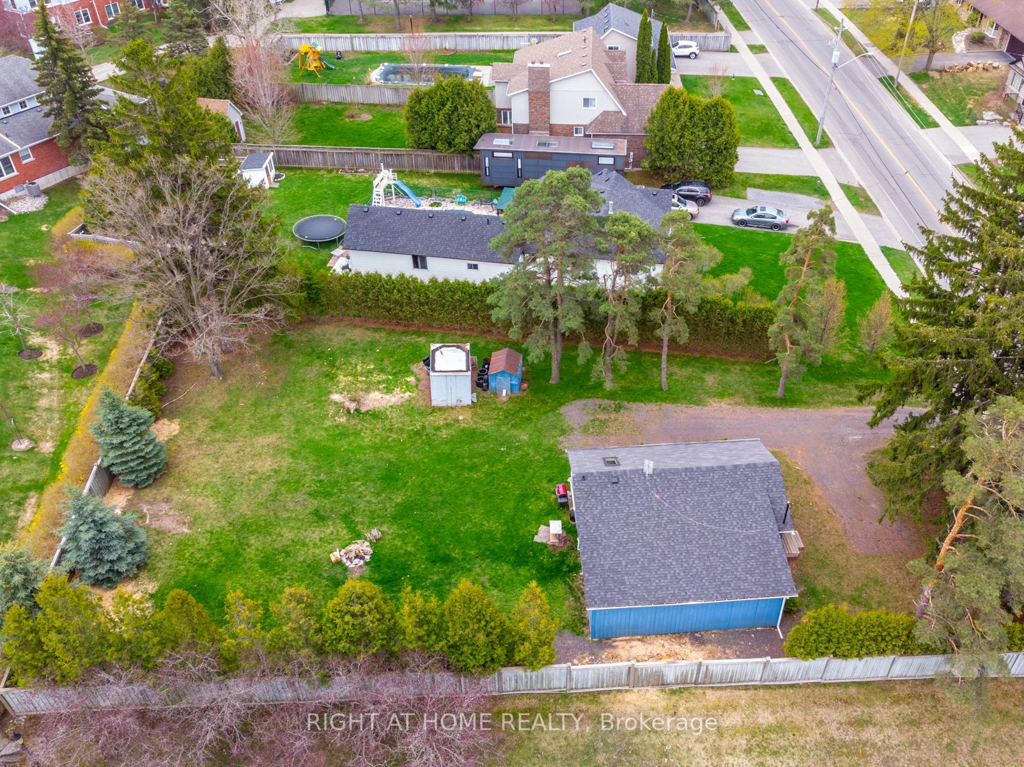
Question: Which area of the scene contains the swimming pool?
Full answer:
The swimming pool sits in the top section of the image.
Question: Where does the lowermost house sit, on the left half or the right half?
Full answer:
The lowermost house appears in the right half of the scene.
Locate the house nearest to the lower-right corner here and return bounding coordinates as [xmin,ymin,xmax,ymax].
[568,440,801,639]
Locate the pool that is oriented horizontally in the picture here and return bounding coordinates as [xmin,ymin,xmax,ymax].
[366,64,504,84]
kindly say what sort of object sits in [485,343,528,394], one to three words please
shed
